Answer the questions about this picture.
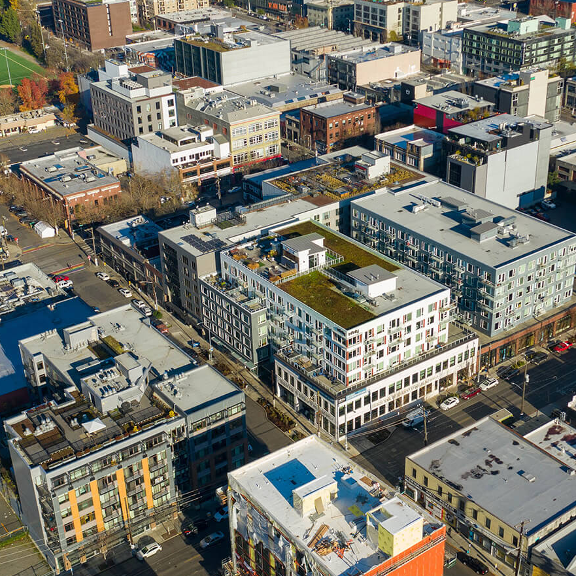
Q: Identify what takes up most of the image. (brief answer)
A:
buildings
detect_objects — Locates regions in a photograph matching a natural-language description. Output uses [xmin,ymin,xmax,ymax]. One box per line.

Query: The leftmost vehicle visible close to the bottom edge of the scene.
[136,543,162,560]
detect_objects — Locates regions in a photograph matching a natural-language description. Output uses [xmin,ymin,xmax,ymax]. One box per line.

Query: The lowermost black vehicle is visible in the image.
[463,555,487,574]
